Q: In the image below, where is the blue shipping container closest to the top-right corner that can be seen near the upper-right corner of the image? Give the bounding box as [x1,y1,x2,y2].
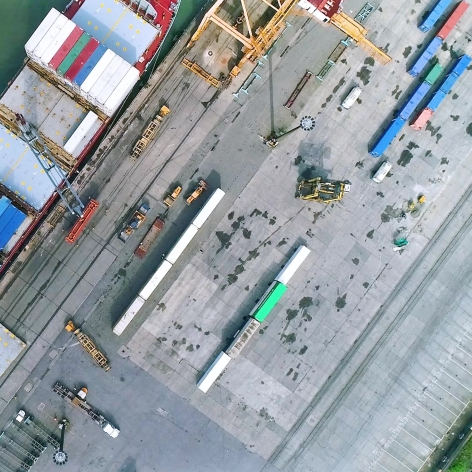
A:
[416,0,451,34]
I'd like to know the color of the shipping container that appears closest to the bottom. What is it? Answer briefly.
white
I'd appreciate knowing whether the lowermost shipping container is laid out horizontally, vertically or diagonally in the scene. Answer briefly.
diagonally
